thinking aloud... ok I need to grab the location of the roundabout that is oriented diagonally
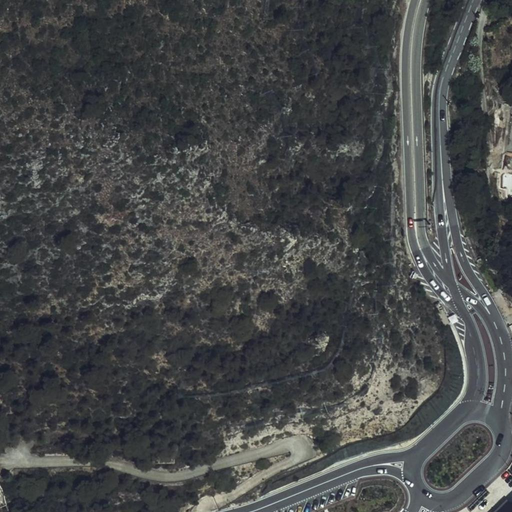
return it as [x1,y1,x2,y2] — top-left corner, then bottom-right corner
[422,421,494,492]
